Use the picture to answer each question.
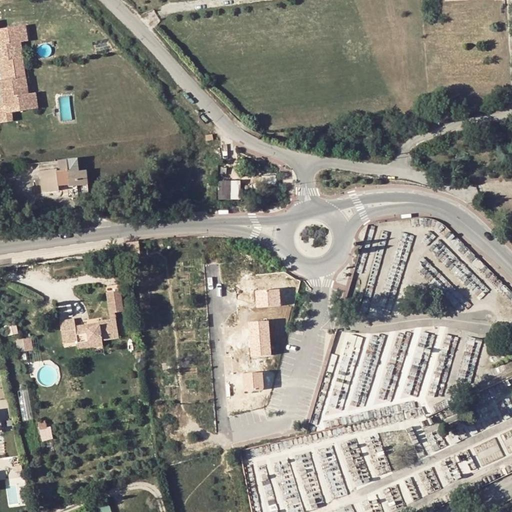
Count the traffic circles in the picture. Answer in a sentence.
My tally gives 1 traffic circle in this photo.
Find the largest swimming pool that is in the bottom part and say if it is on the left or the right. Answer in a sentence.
The largest swimming pool that is in the bottom part is on the left side of the image.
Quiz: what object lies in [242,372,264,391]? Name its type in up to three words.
house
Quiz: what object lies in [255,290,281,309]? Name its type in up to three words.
house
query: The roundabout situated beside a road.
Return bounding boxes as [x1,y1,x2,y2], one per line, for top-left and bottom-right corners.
[257,194,366,289]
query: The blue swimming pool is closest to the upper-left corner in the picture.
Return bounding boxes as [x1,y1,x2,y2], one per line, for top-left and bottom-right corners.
[38,44,52,58]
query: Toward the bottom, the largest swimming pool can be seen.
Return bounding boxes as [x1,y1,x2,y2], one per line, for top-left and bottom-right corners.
[31,360,61,388]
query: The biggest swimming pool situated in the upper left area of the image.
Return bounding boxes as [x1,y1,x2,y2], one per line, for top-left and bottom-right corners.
[56,93,77,124]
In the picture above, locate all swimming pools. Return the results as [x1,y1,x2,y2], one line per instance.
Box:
[7,485,18,505]
[56,93,77,124]
[31,360,61,388]
[38,44,52,58]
